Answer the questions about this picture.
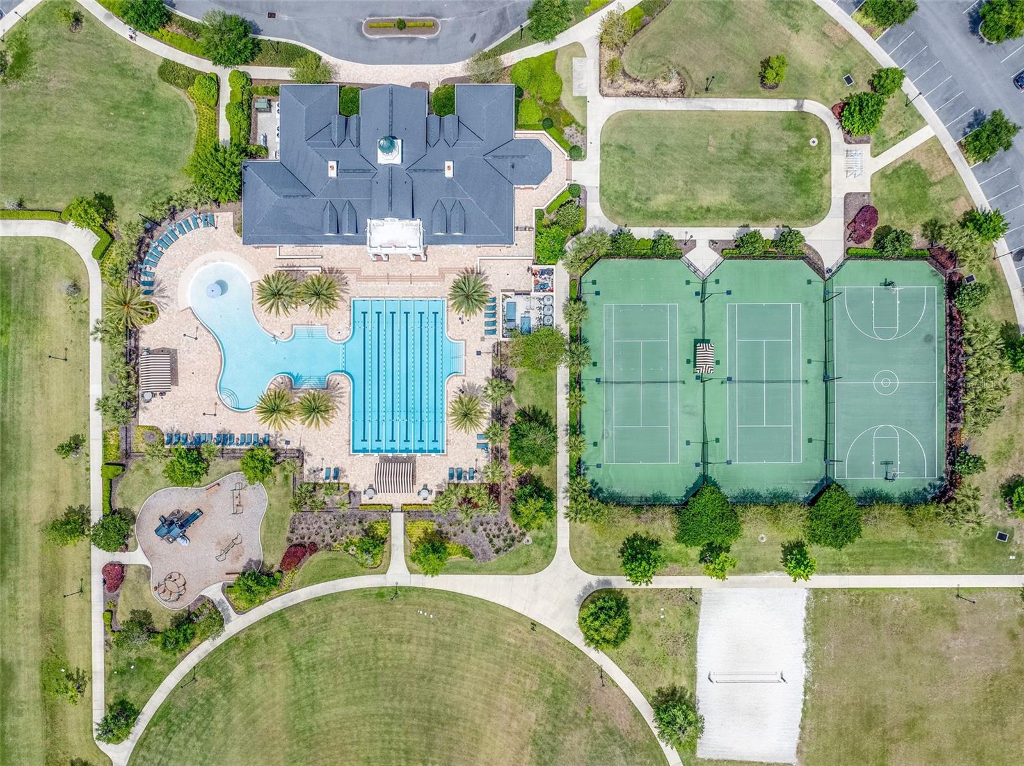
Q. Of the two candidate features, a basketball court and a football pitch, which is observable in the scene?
basketball court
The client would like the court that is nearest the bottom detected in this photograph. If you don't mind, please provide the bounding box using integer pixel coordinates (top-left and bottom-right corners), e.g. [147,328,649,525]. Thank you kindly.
[696,589,809,761]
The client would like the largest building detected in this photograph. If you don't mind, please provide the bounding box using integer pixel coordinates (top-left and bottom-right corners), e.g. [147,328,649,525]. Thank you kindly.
[242,84,552,260]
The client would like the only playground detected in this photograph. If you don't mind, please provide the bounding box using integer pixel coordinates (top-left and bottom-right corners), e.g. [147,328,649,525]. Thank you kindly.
[133,471,268,612]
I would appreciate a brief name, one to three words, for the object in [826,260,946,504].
basketball court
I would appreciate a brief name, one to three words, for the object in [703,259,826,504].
tennis court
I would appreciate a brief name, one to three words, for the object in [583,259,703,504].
tennis court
